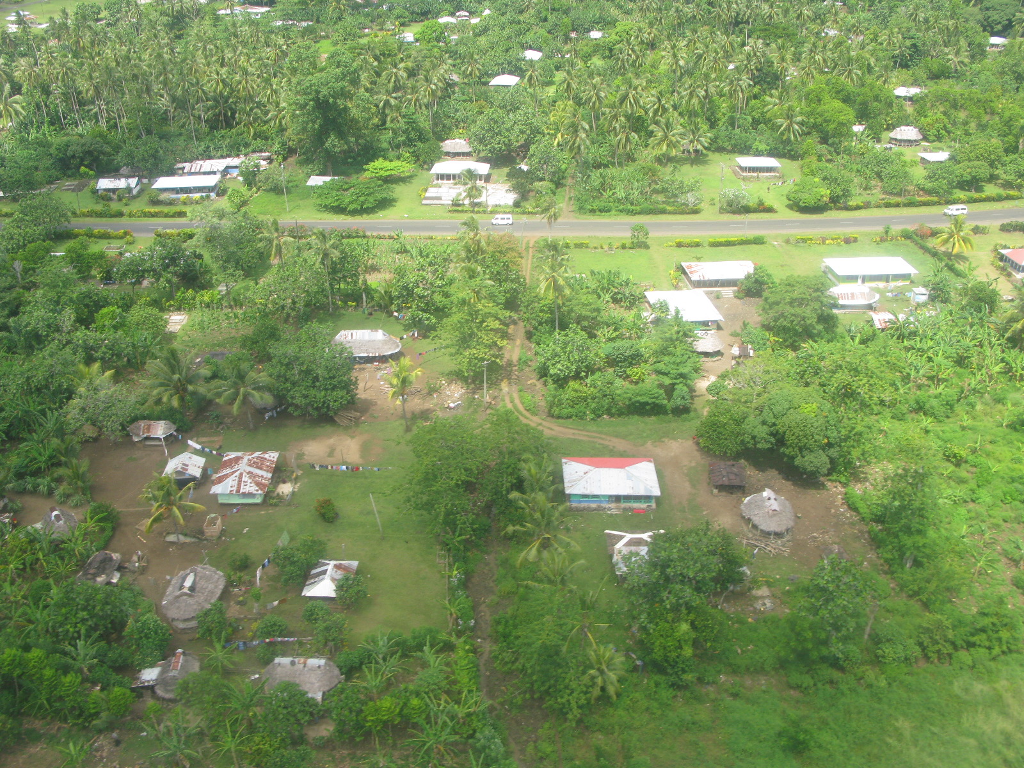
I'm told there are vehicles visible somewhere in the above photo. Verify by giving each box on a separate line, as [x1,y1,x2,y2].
[492,214,513,225]
[945,205,969,216]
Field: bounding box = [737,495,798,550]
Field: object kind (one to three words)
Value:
building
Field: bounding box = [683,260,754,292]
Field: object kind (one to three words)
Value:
house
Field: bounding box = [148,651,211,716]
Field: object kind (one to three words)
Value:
building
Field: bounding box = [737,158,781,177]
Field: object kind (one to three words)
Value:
house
